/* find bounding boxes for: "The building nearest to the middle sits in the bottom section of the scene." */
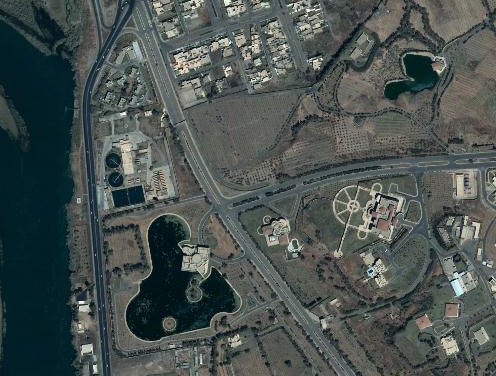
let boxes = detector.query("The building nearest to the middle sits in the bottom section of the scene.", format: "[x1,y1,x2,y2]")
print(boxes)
[263,217,288,244]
